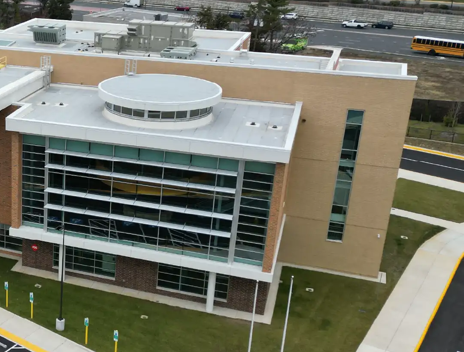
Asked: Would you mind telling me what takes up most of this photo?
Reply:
buildings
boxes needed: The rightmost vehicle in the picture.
[413,33,464,62]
